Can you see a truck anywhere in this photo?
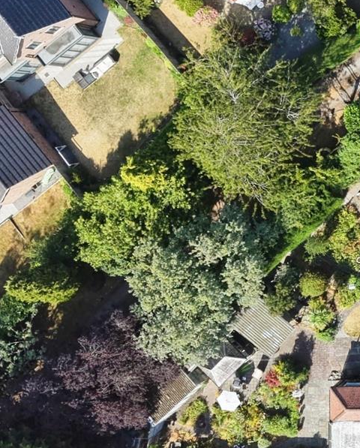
No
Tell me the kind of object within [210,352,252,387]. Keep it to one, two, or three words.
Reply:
greenhouse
